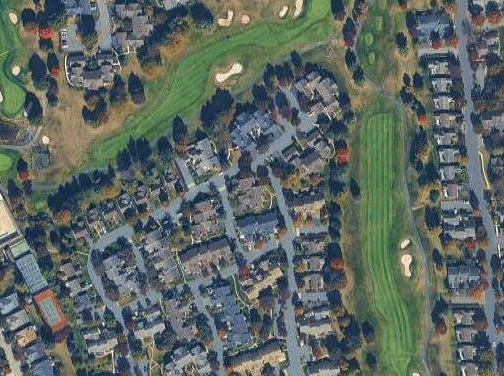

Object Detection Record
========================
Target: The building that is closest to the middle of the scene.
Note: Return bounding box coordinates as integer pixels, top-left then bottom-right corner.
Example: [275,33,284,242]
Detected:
[233,177,272,215]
